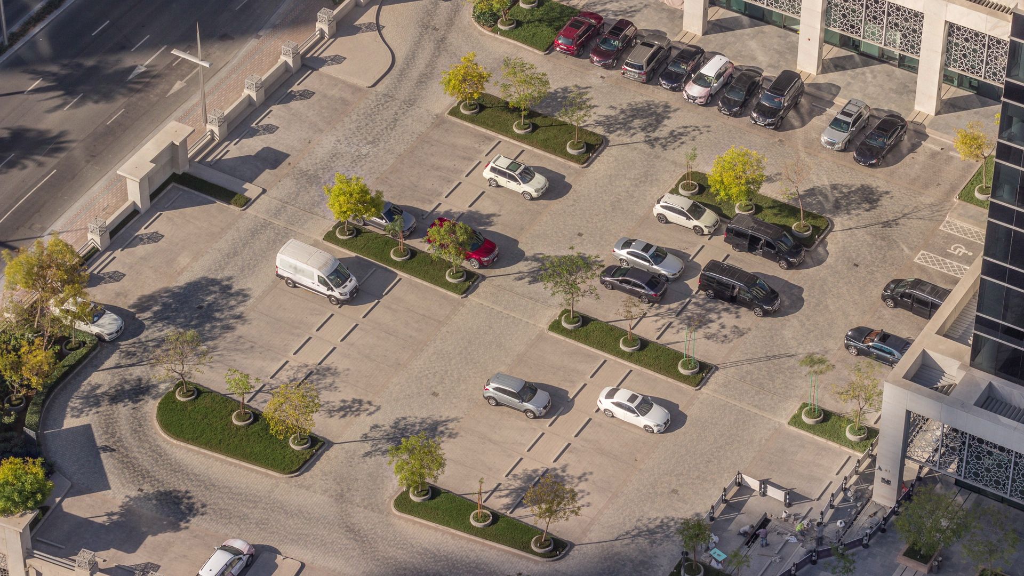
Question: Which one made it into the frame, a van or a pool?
van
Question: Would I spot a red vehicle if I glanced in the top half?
Yes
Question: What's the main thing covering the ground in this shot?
paved ground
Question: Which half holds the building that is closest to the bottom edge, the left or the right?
right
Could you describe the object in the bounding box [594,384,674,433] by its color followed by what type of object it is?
white car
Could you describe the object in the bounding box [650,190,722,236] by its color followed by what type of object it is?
white car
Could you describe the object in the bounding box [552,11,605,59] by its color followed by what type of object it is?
red car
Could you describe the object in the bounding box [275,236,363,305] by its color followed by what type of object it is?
white van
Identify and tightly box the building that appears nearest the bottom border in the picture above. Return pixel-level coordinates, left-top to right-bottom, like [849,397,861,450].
[873,244,1024,510]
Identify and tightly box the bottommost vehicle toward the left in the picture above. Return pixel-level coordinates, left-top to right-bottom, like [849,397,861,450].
[193,538,255,576]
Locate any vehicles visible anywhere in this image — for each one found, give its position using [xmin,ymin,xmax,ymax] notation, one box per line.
[481,371,555,419]
[819,97,873,152]
[275,236,363,305]
[715,67,766,117]
[650,190,722,236]
[657,42,707,91]
[193,538,255,576]
[594,384,674,433]
[839,325,913,367]
[852,114,910,168]
[877,275,951,317]
[589,17,640,69]
[611,234,688,281]
[424,213,502,269]
[697,258,785,317]
[598,262,674,306]
[749,71,806,131]
[620,34,673,86]
[724,210,810,270]
[682,55,735,106]
[481,151,551,200]
[552,11,605,59]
